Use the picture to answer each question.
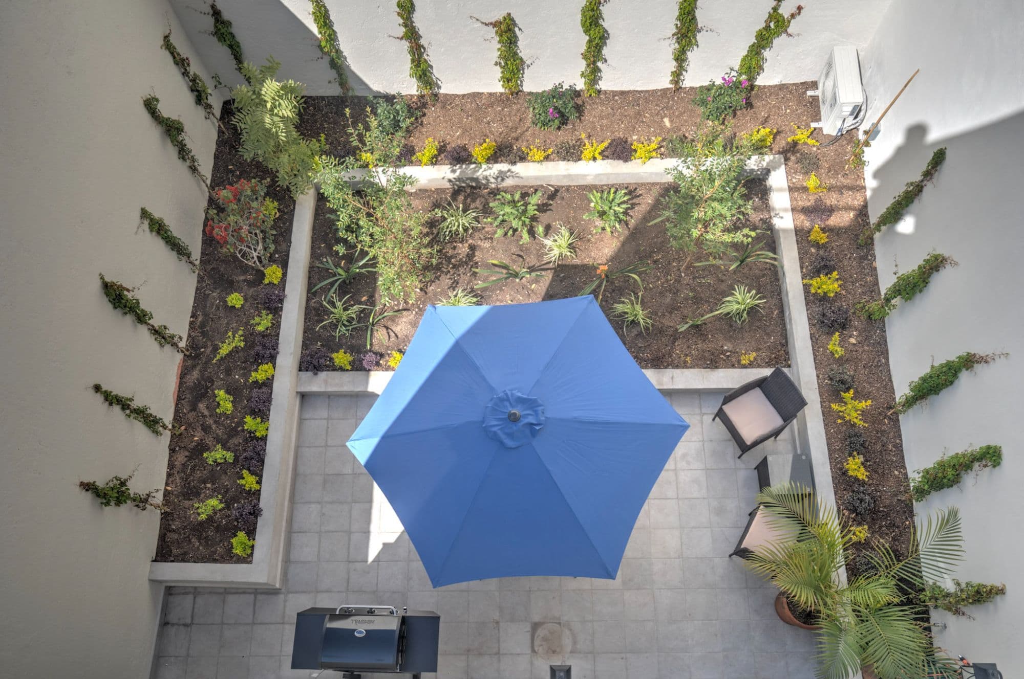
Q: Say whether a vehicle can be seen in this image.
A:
No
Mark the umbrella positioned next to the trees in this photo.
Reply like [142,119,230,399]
[347,295,692,590]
